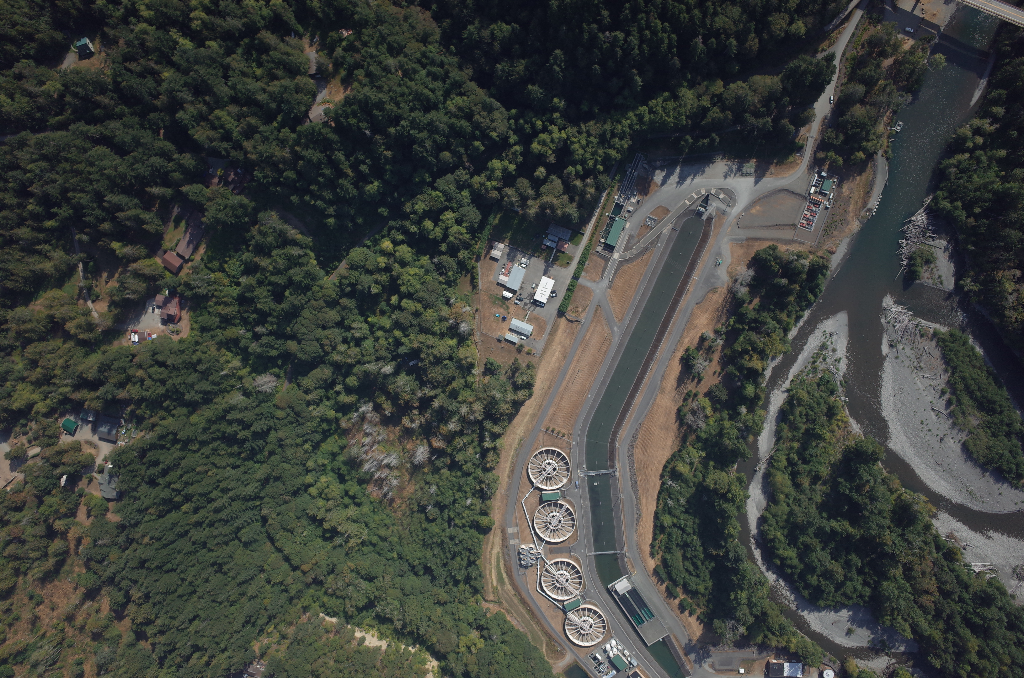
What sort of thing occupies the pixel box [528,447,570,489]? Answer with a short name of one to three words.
storage tank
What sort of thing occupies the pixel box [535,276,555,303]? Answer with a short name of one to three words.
building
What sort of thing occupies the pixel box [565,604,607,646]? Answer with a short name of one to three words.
storage tank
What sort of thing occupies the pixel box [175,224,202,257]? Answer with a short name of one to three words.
house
